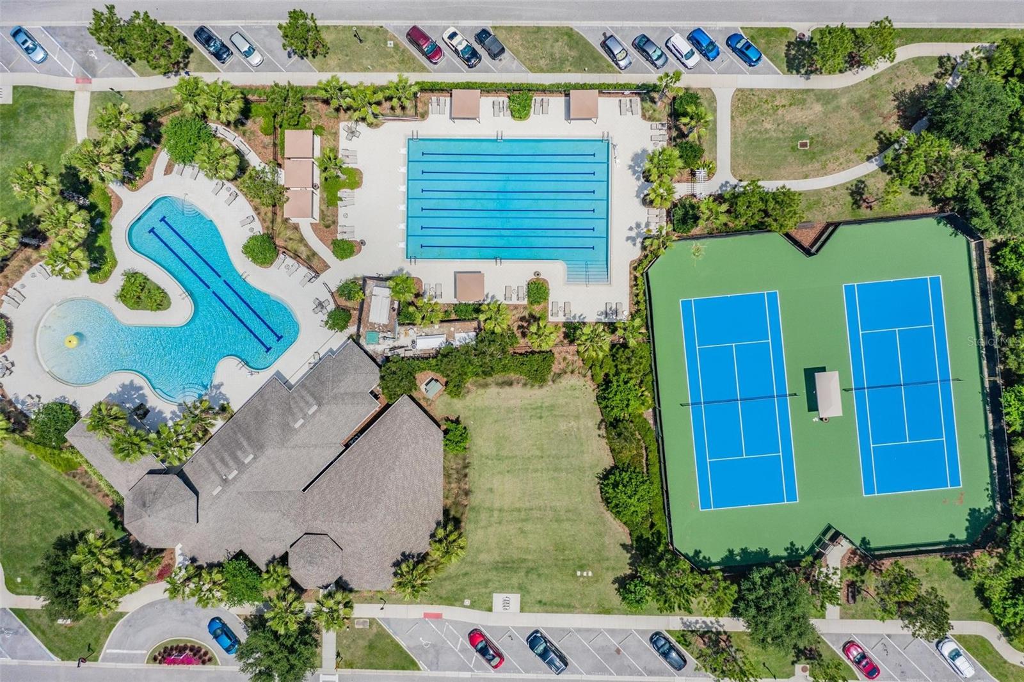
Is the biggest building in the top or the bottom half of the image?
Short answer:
bottom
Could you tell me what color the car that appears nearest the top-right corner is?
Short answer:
blue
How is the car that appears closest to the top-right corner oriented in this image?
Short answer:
diagonally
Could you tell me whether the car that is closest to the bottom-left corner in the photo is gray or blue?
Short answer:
blue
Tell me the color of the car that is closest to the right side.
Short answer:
white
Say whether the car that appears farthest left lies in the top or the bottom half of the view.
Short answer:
top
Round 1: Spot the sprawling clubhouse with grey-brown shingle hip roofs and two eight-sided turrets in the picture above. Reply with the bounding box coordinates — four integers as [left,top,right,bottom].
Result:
[70,339,444,590]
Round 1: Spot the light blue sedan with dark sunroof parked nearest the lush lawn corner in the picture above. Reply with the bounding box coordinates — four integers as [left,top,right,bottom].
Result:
[9,23,51,67]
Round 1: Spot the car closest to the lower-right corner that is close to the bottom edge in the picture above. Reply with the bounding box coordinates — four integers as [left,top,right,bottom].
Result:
[932,633,978,681]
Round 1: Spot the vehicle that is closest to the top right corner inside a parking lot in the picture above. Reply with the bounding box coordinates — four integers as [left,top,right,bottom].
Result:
[723,30,765,71]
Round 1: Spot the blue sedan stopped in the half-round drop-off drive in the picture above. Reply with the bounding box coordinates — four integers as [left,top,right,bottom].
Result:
[206,613,242,656]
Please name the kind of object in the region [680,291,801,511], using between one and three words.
tennis court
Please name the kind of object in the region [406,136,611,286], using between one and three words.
swimming pool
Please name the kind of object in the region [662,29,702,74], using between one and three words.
car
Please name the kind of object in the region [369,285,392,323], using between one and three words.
shed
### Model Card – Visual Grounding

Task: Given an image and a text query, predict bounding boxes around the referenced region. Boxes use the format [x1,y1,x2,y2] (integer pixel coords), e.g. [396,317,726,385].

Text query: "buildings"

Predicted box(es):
[369,285,392,323]
[70,339,444,590]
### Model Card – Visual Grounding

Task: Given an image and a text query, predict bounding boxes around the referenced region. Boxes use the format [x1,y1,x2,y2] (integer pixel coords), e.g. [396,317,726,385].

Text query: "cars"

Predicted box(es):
[932,633,978,681]
[440,23,484,72]
[227,28,267,70]
[723,30,765,71]
[469,24,508,64]
[662,29,702,74]
[646,627,689,674]
[629,30,669,73]
[9,23,51,67]
[206,613,242,656]
[191,21,235,67]
[598,30,634,73]
[838,636,883,682]
[684,24,721,65]
[403,21,446,68]
[465,624,507,672]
